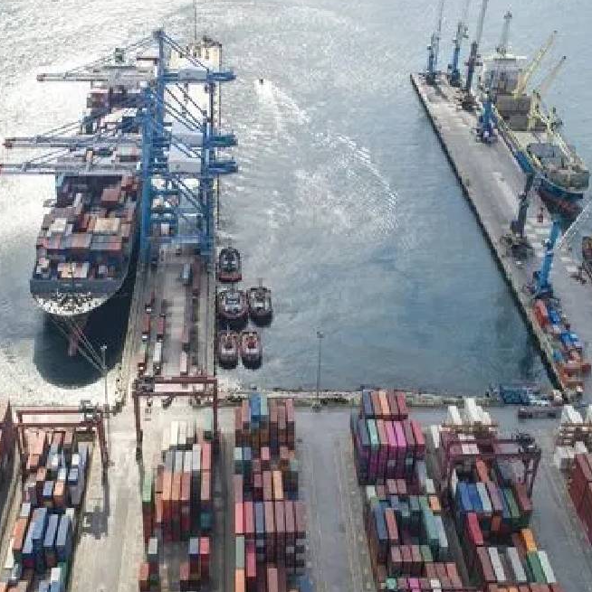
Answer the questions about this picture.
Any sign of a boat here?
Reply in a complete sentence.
Yes, looking at the shot, I can spot a boat.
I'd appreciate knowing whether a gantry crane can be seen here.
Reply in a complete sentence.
Yes, there's a gantry crane down there.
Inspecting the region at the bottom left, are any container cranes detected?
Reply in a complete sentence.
Yes, I can see a container crane at the bottom left.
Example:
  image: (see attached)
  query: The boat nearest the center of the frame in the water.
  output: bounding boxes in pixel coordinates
[250,284,276,325]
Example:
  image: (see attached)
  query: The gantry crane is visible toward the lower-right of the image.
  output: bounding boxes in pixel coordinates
[429,432,547,520]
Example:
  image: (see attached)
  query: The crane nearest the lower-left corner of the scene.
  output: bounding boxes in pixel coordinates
[2,399,109,484]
